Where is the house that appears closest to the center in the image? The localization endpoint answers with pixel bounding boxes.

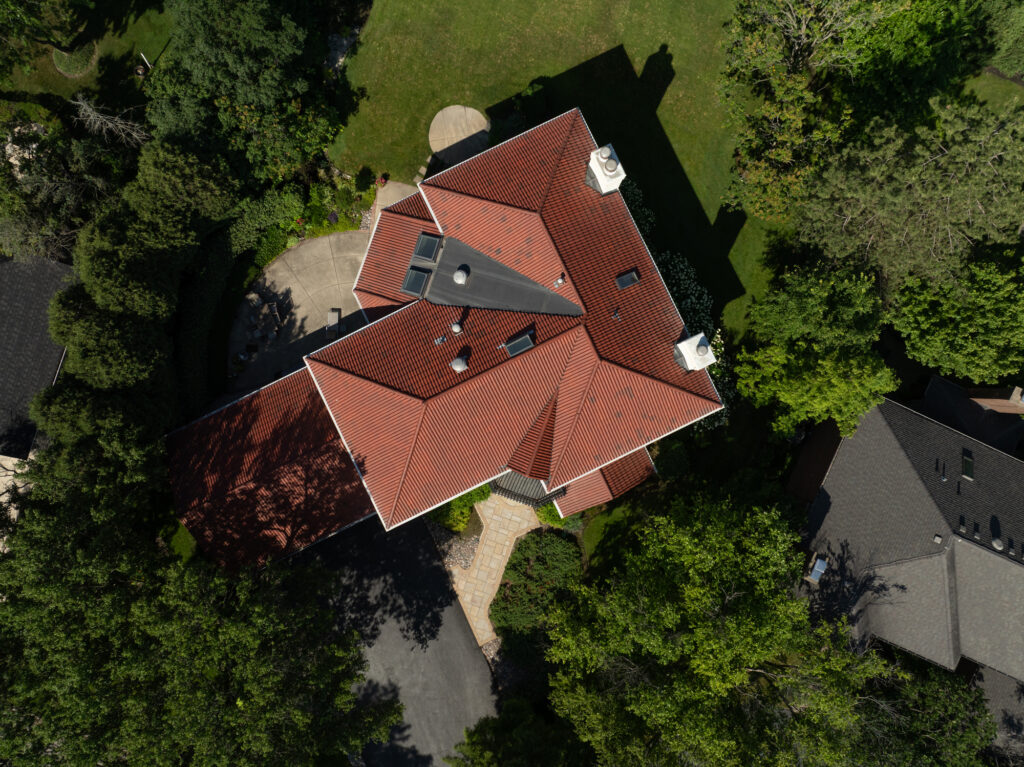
[150,107,726,591]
